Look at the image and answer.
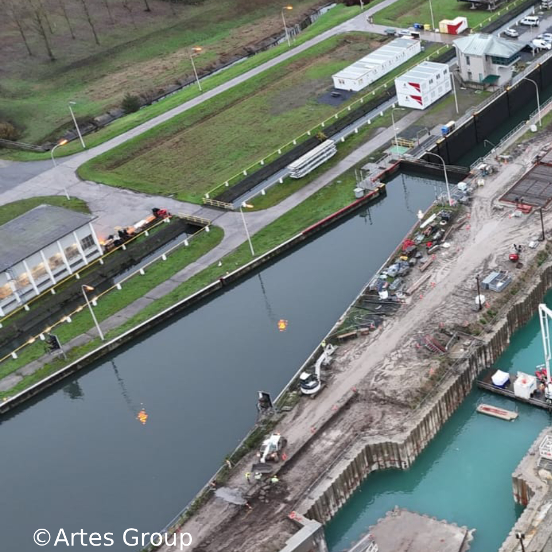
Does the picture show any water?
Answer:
Yes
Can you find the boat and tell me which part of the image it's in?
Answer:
bottom right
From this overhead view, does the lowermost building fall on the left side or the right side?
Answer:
left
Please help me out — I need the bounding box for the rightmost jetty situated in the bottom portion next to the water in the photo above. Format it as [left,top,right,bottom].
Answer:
[477,373,552,410]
